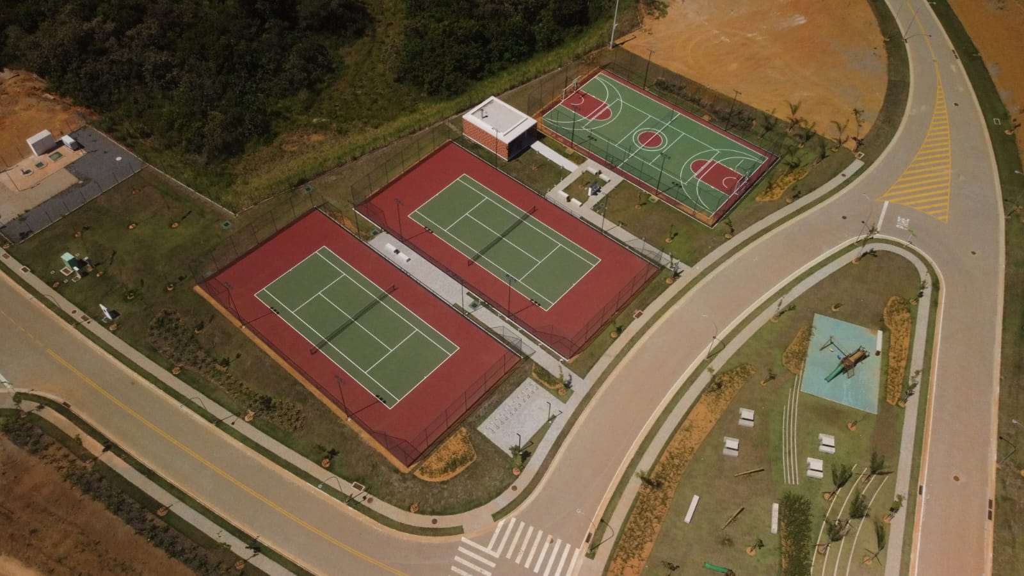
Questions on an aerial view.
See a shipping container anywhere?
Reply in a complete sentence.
No, no shipping container is visible in the scene.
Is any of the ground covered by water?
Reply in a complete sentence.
No, water can't be seen anywhere here.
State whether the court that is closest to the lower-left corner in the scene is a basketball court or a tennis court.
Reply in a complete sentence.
The court that is closest to the lower-left corner can be classified as a tennis court.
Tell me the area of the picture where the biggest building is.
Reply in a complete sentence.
The biggest building appears toward the top of the photo.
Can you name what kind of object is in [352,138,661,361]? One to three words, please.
tennis court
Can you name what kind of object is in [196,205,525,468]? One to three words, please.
tennis court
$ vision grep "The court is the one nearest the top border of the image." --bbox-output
[529,64,781,228]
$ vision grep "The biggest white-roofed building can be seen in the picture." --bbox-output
[462,95,539,161]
